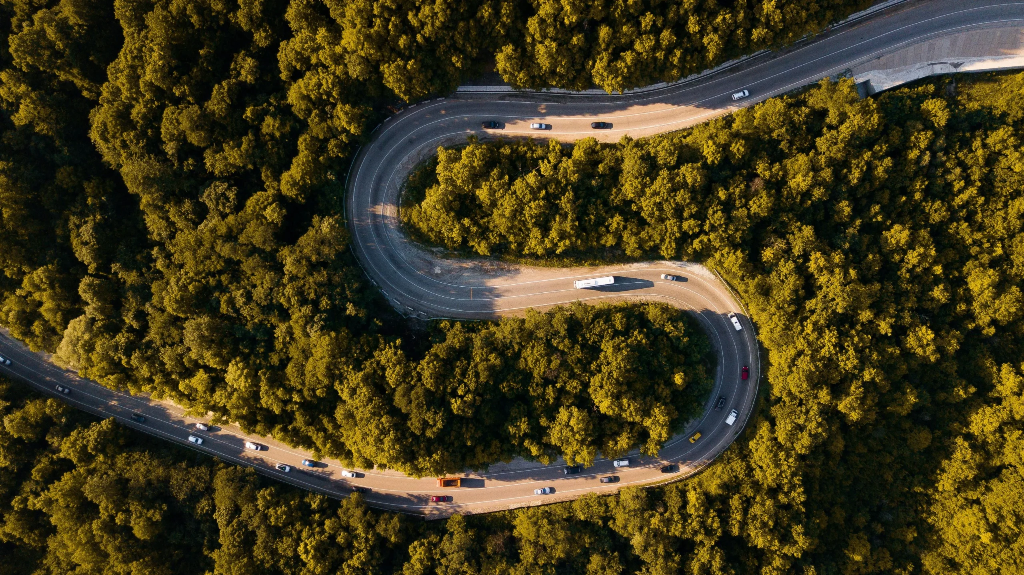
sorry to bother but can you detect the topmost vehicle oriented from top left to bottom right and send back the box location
[729,313,744,332]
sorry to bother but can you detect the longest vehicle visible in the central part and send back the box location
[573,275,616,289]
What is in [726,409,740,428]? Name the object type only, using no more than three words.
vehicle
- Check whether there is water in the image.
No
